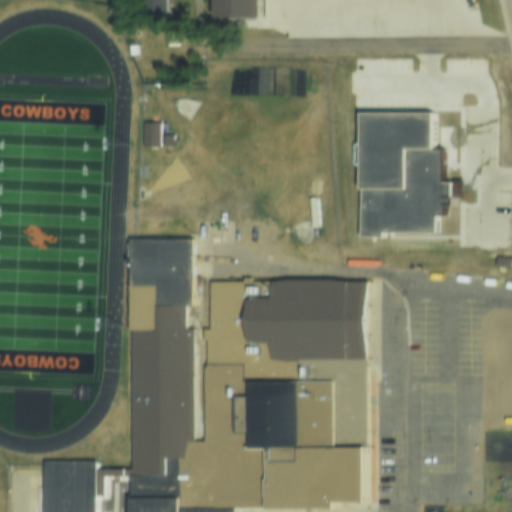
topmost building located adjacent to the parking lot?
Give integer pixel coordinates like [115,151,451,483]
[354,112,462,236]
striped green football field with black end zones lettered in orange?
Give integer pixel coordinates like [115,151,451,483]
[0,25,116,436]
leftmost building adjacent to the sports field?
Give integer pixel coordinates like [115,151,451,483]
[40,460,102,512]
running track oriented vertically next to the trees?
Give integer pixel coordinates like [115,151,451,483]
[0,9,132,453]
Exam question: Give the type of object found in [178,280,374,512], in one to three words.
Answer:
building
